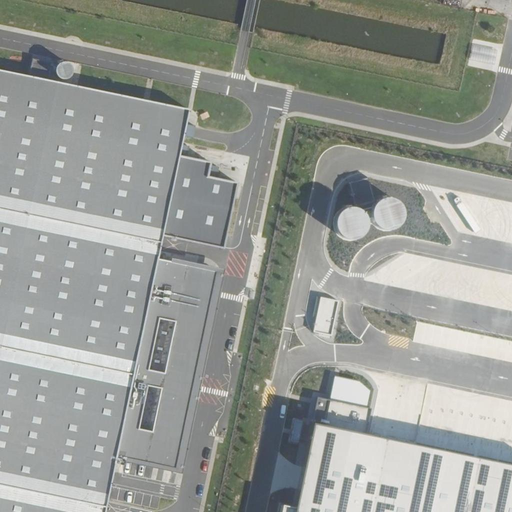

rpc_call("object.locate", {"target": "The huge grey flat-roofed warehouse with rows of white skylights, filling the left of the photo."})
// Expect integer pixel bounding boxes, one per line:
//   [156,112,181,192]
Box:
[0,70,188,512]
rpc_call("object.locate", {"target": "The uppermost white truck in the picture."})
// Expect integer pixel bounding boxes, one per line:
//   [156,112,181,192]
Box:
[454,196,480,233]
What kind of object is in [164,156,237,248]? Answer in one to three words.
building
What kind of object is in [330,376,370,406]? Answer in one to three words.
building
